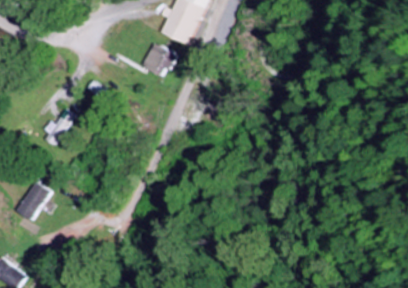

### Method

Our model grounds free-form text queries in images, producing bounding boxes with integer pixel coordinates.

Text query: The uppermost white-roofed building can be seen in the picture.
[159,0,212,44]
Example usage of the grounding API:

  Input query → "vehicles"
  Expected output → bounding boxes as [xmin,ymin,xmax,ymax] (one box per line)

[154,4,166,15]
[108,53,118,62]
[108,80,118,89]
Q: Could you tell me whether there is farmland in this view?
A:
No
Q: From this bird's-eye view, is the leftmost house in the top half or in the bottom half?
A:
bottom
